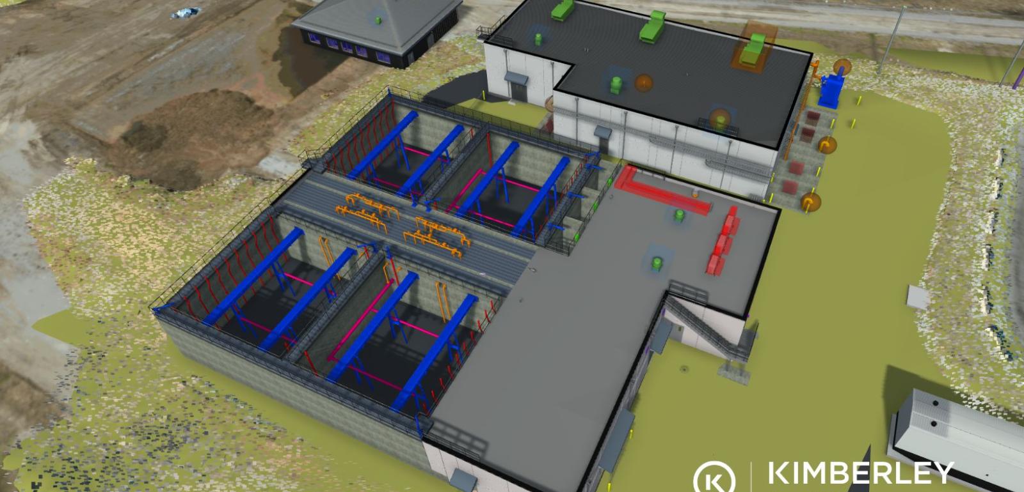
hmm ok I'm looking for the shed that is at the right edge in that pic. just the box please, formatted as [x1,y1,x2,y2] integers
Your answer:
[887,389,1024,492]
